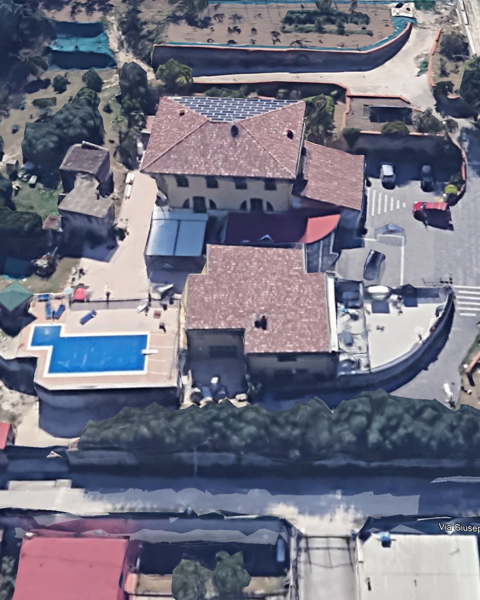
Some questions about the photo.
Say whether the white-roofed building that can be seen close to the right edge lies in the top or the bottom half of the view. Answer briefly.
bottom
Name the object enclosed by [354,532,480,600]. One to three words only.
building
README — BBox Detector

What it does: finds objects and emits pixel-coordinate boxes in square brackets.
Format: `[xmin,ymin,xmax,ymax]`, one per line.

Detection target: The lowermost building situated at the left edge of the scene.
[7,532,134,600]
